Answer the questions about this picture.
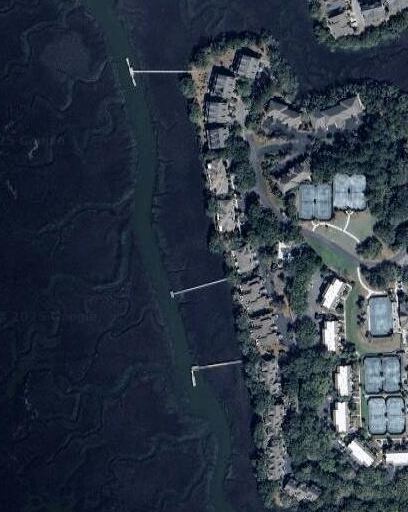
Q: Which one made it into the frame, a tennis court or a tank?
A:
tennis court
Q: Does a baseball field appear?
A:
No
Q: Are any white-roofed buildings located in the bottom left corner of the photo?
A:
No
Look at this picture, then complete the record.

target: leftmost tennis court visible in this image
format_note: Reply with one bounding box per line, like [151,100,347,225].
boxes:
[299,183,315,221]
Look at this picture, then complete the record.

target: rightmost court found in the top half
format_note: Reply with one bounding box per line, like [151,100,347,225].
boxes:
[350,174,366,210]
